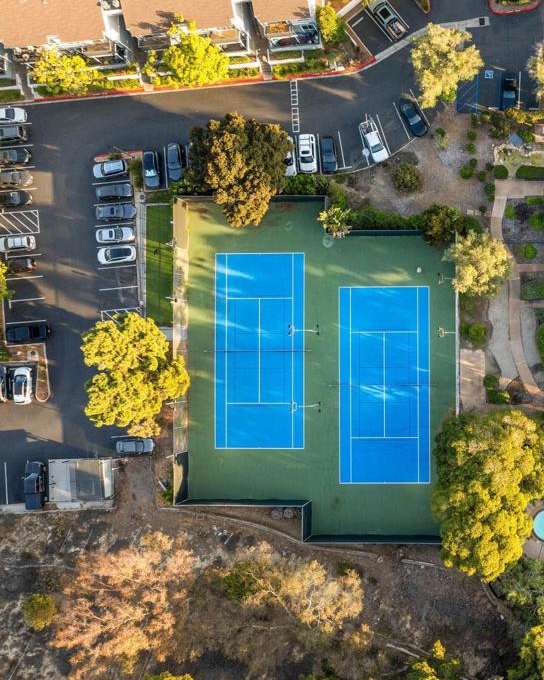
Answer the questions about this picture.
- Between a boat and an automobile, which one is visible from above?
automobile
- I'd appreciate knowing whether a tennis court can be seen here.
Yes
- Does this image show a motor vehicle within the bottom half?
Yes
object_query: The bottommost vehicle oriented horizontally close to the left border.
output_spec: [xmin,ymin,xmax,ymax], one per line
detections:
[1,322,51,342]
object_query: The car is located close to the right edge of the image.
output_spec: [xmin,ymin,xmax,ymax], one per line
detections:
[499,71,518,112]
